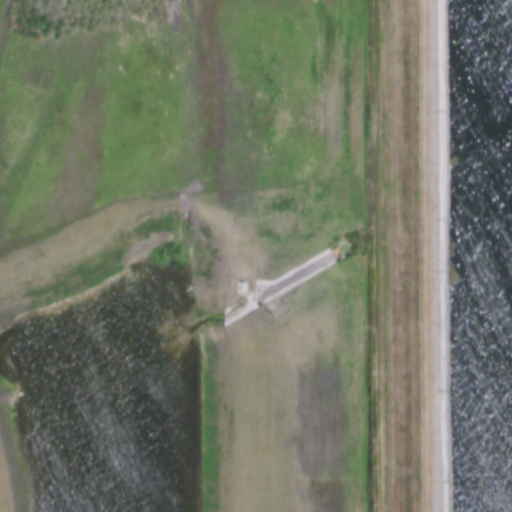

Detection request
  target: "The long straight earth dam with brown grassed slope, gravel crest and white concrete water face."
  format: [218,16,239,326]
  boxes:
[374,0,452,512]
